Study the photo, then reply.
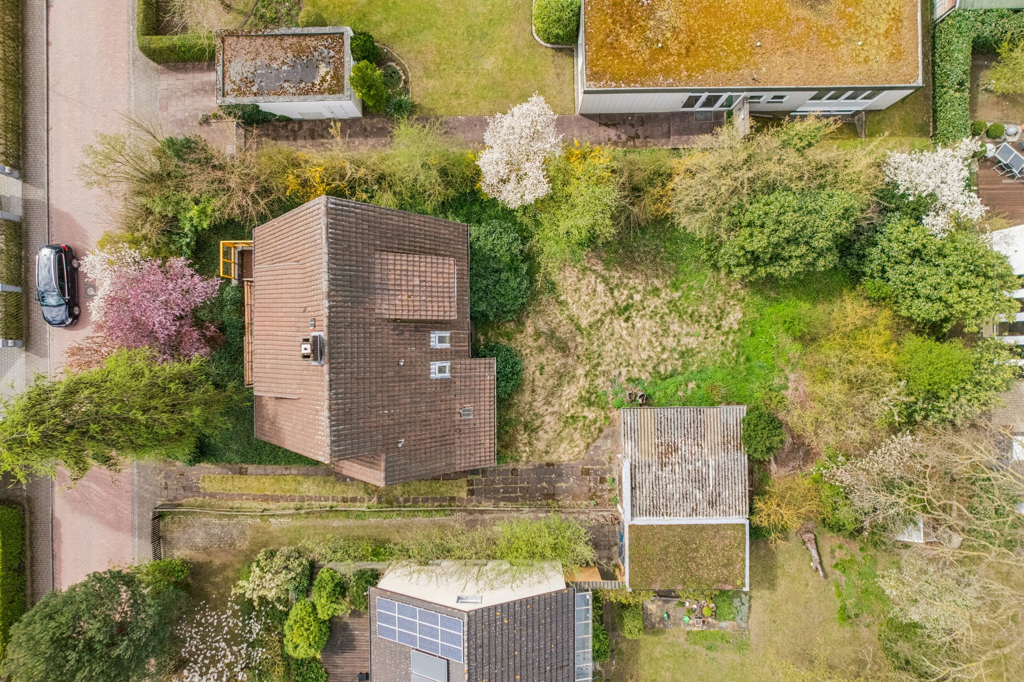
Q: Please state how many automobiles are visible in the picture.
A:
1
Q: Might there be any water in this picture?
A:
No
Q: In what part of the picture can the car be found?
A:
left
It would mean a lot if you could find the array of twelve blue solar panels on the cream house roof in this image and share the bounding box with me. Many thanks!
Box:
[376,598,463,662]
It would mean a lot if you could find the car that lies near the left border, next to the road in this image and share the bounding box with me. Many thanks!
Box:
[33,244,84,327]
